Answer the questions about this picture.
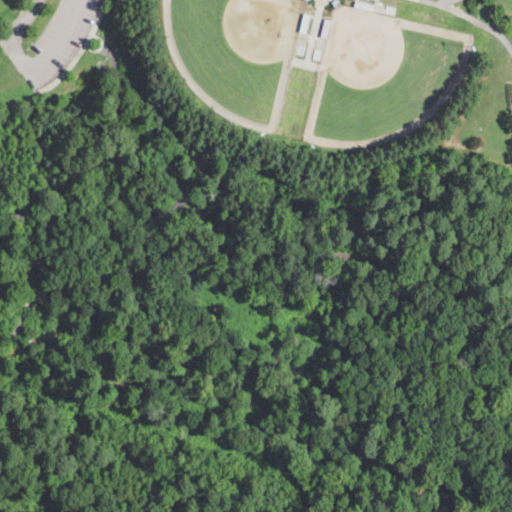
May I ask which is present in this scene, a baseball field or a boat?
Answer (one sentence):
The image shows a baseball field.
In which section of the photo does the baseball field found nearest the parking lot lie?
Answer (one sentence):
Look in the top portion of the view to spot the baseball field found nearest the parking lot.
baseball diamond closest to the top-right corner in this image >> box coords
[305,8,474,150]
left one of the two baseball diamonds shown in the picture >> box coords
[163,0,306,134]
